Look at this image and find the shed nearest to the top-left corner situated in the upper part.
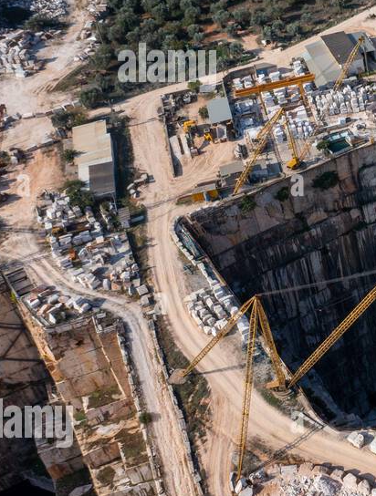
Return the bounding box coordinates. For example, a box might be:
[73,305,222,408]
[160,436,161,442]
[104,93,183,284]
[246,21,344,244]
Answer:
[73,118,115,178]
